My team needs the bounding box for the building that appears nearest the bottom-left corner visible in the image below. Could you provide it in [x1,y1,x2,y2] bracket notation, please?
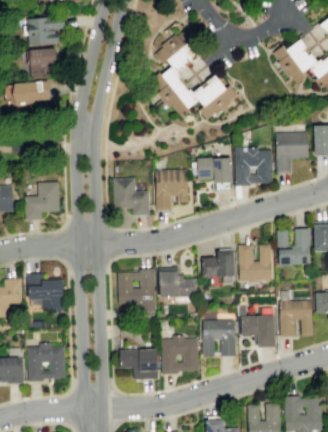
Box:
[0,357,24,383]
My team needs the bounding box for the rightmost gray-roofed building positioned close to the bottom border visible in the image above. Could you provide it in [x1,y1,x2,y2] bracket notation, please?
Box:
[286,397,324,432]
